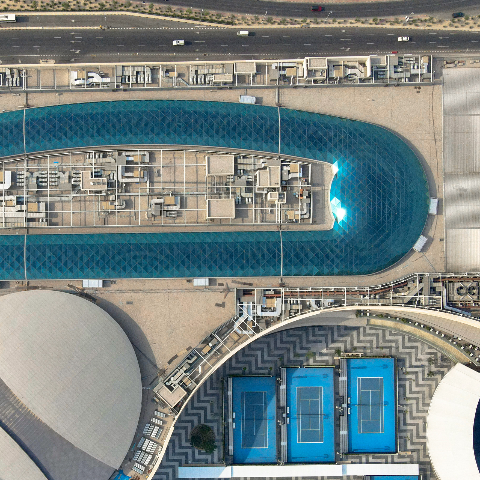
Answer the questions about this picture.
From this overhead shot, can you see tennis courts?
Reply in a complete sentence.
Yes, the photo shows a tennis court.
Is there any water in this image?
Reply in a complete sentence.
No, there's no water in this view.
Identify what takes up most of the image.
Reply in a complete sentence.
The bulk of the photo consists of buildings.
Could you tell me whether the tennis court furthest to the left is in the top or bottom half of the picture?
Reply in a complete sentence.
It is in the bottom half that the tennis court furthest to the left appears.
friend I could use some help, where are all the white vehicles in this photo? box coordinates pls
[236,31,249,37]
[173,40,184,46]
[397,37,409,42]
[0,14,16,24]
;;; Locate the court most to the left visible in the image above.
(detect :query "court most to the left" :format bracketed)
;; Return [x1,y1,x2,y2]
[232,377,276,464]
